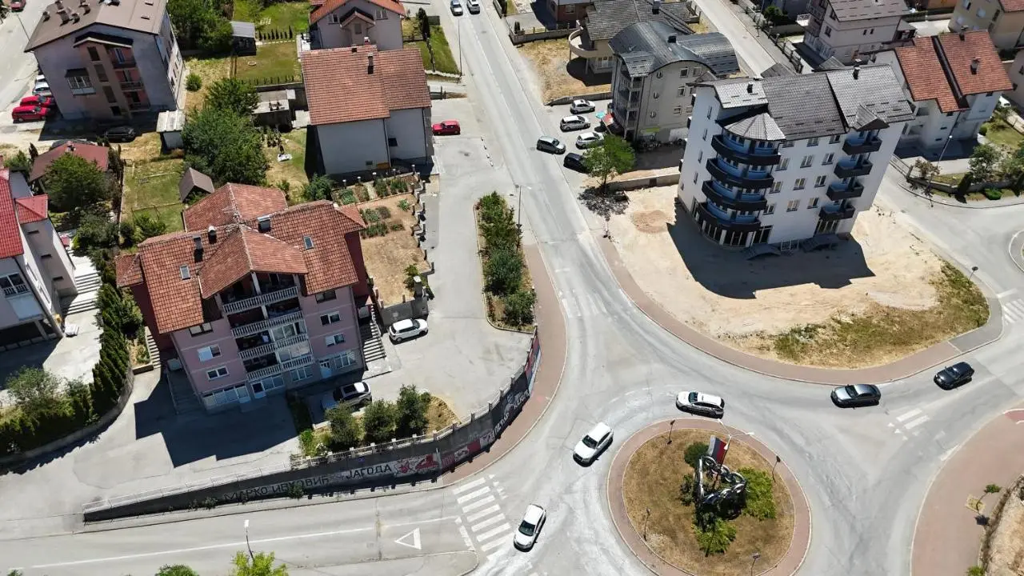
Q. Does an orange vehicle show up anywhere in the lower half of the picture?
No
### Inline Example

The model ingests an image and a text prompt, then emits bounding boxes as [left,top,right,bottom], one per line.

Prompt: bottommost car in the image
[512,500,549,552]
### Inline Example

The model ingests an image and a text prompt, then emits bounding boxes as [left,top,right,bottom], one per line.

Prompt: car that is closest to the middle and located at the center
[385,316,431,343]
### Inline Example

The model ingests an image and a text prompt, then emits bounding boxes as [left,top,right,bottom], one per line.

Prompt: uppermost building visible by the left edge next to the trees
[24,0,189,119]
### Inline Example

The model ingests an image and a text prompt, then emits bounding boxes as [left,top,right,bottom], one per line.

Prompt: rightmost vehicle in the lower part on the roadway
[931,360,981,391]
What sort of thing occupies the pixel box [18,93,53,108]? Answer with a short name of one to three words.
car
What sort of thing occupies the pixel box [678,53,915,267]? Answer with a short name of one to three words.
building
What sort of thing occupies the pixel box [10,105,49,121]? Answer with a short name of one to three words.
car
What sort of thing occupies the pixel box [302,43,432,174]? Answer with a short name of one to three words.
house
